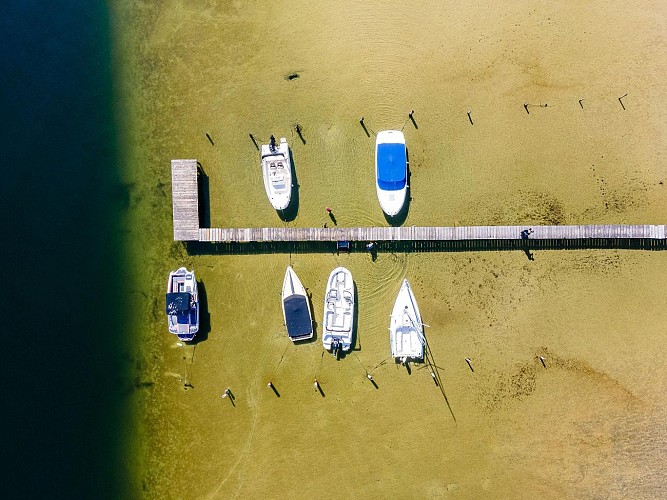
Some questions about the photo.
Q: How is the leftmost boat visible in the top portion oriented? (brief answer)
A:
up and down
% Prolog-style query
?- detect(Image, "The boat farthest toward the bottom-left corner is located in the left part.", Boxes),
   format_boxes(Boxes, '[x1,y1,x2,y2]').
[168,268,199,340]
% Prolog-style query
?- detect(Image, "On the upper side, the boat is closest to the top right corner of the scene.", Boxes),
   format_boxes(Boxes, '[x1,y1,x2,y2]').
[376,131,406,218]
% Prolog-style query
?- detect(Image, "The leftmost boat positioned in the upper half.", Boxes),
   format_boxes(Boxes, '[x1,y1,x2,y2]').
[263,131,293,210]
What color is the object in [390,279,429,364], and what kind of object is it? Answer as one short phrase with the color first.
white boat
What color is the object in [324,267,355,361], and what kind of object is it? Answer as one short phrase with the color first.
white boat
